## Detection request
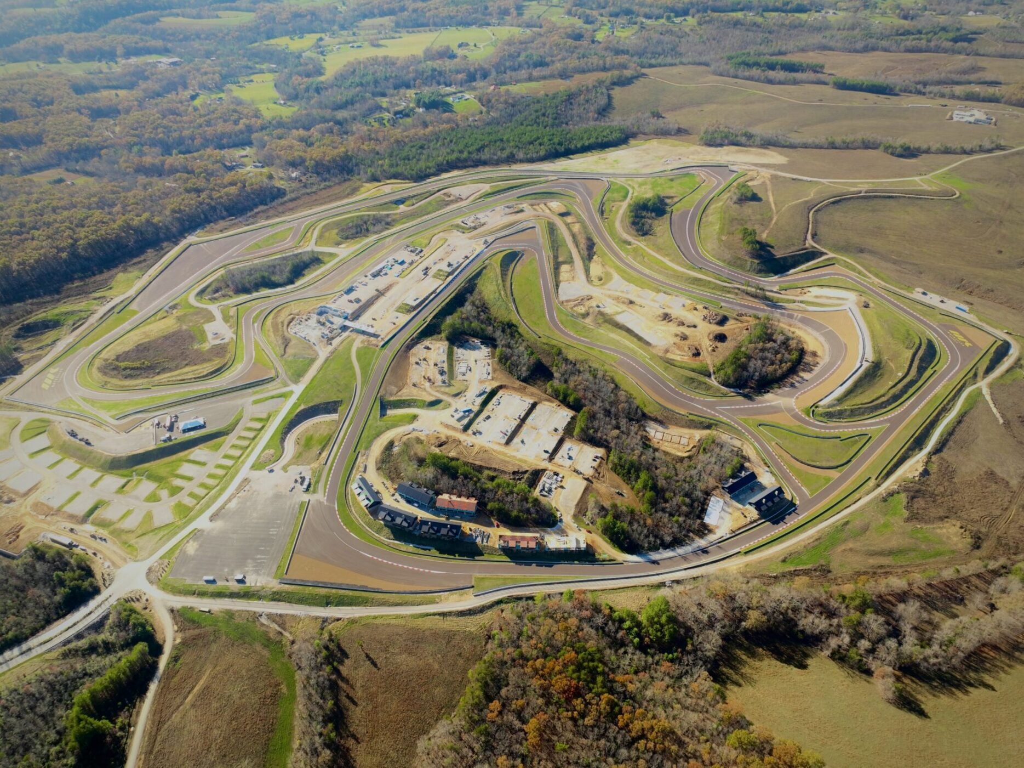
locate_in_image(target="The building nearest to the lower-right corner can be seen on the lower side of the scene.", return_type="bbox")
[747,486,789,519]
